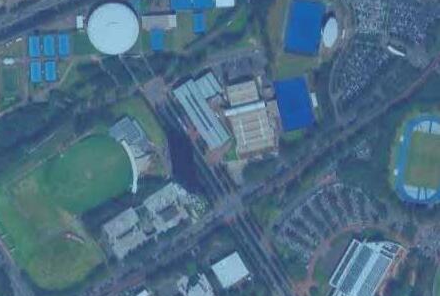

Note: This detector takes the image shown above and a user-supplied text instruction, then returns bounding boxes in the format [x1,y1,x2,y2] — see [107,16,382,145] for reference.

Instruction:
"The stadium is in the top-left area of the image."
[87,3,140,55]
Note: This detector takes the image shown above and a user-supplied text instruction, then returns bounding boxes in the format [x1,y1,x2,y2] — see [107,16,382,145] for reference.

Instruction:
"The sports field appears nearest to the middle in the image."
[274,77,316,131]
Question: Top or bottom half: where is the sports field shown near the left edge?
bottom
